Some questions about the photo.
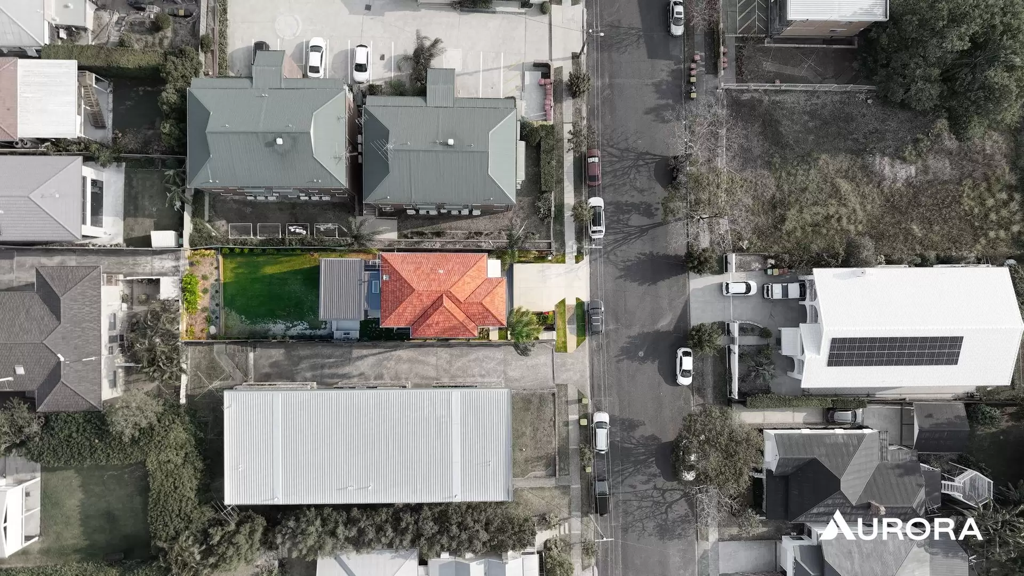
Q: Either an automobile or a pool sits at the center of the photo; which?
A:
automobile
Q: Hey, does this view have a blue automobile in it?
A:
No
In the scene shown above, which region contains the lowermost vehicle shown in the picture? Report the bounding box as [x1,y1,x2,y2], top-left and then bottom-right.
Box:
[592,473,612,518]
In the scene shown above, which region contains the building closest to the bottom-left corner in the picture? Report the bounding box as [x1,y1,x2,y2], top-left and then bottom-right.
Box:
[0,474,50,557]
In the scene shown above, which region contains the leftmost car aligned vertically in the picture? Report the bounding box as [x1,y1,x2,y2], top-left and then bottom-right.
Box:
[306,38,327,79]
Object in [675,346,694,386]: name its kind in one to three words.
car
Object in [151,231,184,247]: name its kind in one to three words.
shed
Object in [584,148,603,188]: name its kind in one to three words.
car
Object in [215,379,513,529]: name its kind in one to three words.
building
